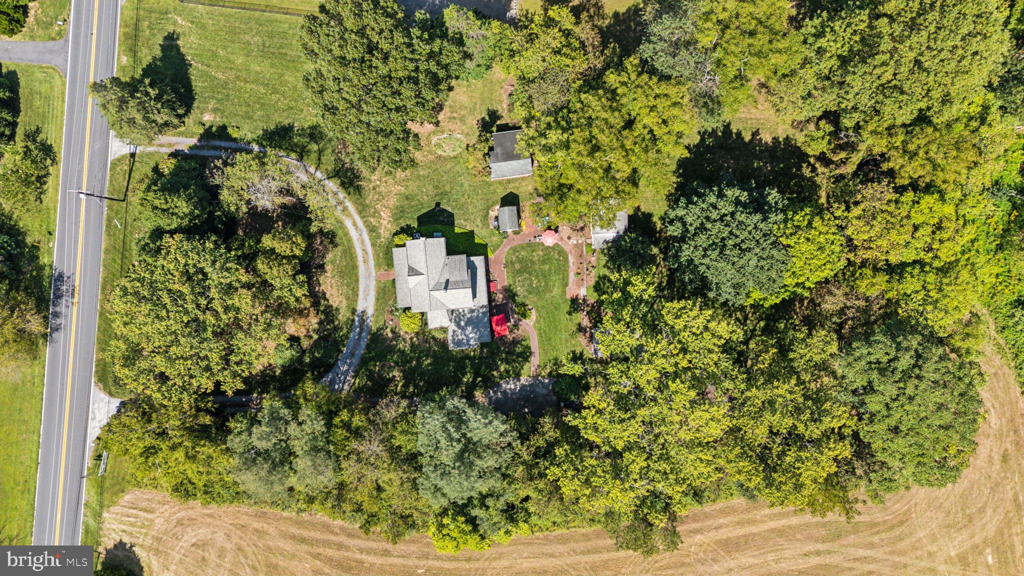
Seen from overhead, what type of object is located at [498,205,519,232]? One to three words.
shed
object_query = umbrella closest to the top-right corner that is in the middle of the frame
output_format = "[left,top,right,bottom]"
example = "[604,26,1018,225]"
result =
[542,230,558,246]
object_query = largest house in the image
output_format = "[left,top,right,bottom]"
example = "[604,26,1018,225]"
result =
[392,235,491,349]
